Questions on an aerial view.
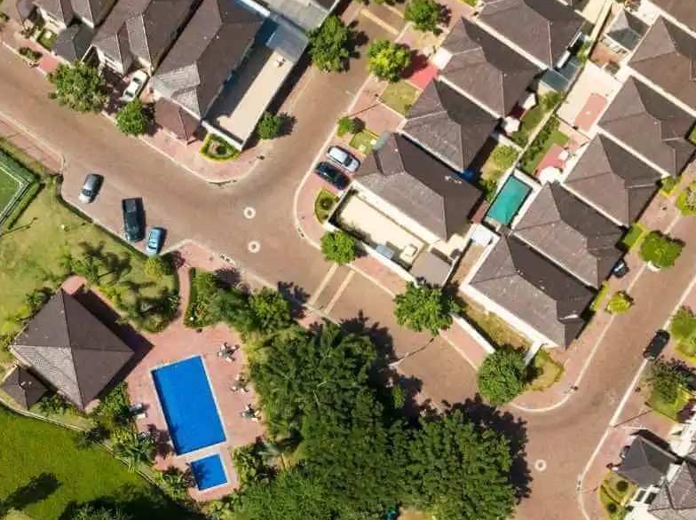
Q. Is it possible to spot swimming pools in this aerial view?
Yes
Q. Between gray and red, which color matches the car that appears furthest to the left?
gray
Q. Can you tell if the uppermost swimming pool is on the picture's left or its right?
right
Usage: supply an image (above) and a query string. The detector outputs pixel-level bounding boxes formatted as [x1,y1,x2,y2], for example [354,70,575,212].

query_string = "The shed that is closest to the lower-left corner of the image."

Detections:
[0,365,47,409]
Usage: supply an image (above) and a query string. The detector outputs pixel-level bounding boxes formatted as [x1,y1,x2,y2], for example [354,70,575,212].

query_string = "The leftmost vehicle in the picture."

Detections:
[80,173,102,205]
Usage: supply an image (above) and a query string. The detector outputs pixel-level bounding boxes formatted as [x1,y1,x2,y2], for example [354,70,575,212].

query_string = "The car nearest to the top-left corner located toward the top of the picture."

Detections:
[121,71,147,102]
